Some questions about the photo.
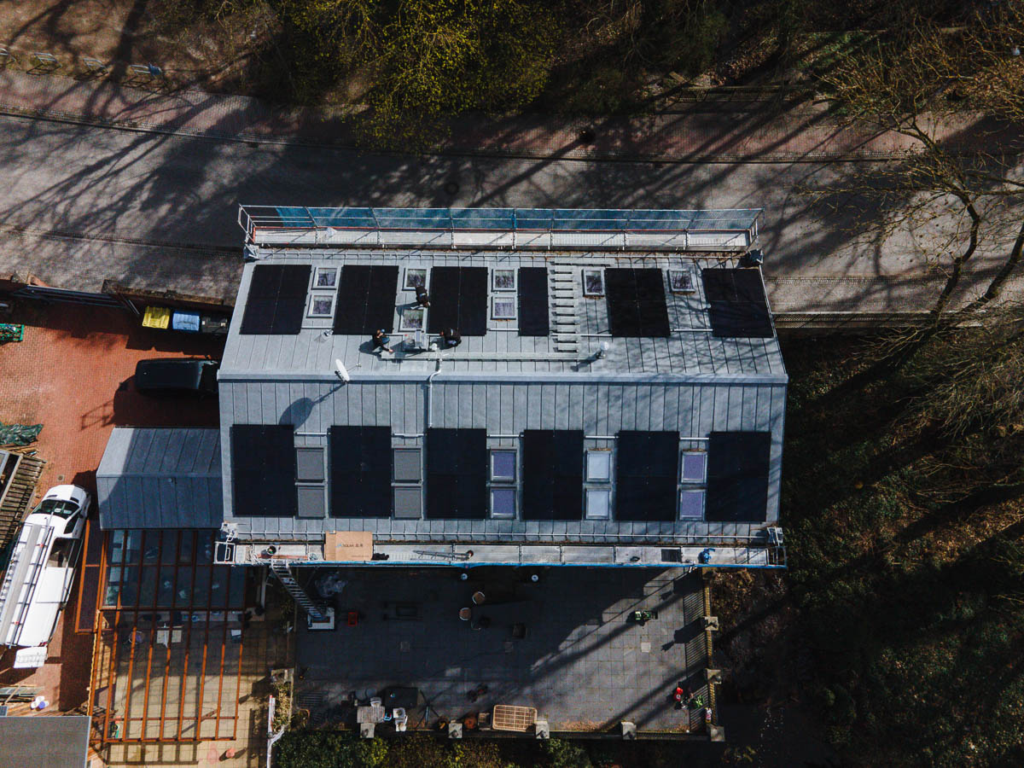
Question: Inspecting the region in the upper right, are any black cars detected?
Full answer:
No, there is no black car in the upper right.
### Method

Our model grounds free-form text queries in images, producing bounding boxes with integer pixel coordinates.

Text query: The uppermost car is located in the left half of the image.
[130,360,217,403]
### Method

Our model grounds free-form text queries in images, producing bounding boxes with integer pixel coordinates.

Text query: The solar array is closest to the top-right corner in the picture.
[701,269,773,338]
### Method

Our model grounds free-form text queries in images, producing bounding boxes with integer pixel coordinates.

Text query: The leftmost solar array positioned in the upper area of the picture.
[240,265,313,334]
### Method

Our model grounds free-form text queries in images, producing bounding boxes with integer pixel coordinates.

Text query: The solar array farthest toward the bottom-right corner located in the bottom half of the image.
[706,432,770,522]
